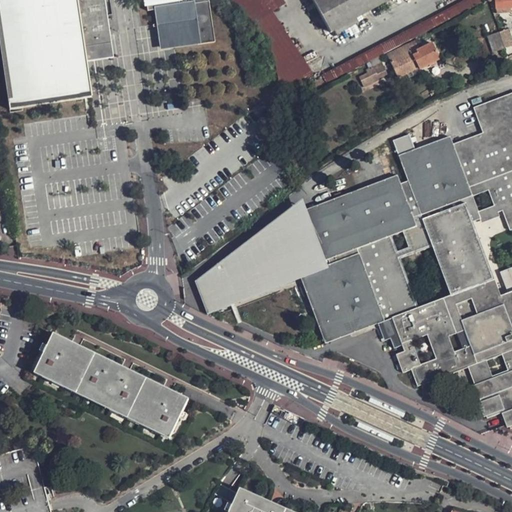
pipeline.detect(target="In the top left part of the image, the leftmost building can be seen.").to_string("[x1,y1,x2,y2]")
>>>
[0,0,94,114]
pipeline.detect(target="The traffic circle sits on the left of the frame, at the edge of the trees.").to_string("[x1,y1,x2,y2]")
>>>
[126,278,168,321]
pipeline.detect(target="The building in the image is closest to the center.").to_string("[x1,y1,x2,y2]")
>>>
[194,199,328,316]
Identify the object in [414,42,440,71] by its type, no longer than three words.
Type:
house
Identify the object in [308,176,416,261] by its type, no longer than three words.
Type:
building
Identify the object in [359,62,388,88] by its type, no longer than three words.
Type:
house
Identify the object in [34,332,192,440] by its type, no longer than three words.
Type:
building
